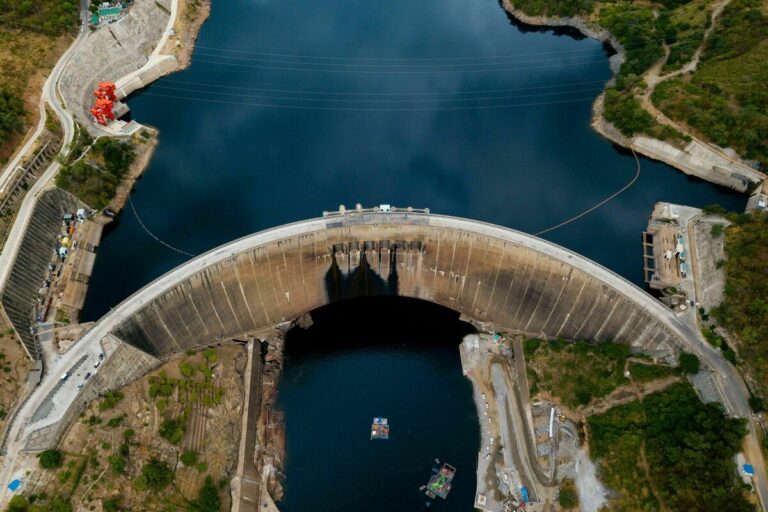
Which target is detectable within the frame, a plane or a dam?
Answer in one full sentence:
The one in the frame is a dam.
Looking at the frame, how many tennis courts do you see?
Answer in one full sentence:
The photo contains no tennis courts.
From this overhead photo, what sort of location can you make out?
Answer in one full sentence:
The picture captures a port.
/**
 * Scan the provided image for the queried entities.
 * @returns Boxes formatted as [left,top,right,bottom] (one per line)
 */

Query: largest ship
[425,466,456,500]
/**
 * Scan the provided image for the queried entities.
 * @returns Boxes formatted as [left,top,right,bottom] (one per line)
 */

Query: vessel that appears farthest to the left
[370,416,389,438]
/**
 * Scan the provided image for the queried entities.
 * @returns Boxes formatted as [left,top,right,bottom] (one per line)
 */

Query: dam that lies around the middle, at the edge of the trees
[89,201,706,358]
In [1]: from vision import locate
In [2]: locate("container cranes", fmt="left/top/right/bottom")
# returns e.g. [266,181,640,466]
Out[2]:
[91,78,116,100]
[87,96,114,122]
